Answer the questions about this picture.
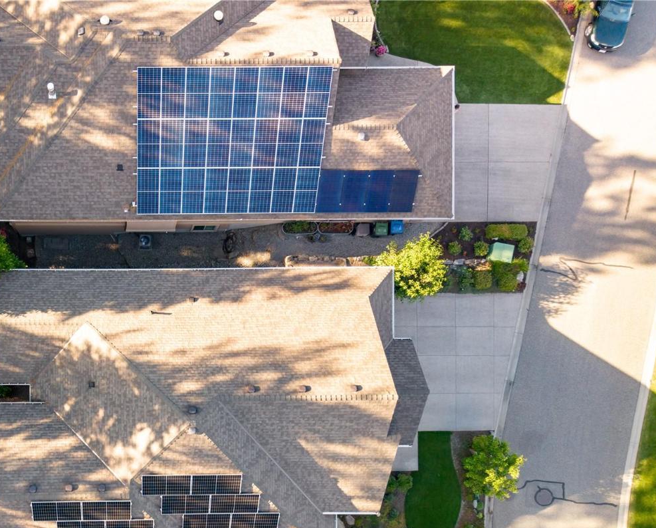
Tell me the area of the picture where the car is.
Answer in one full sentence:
The car is located in the top right region of the scene.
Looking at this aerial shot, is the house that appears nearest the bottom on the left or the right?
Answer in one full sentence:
It is on the left.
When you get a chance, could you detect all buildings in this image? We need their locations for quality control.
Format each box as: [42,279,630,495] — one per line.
[0,0,456,234]
[0,265,428,528]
